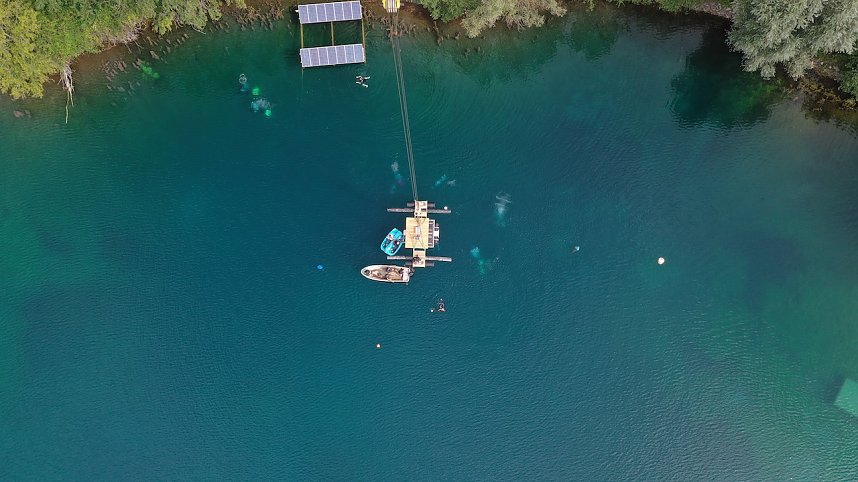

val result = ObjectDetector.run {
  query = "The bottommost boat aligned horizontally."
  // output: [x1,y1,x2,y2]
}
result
[360,265,414,282]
